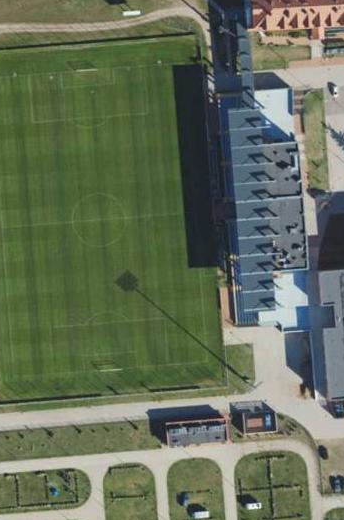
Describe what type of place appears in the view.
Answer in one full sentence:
This looks like a sports ground.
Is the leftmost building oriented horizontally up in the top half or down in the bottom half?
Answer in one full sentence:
The bottom half of the photo is where the leftmost building oriented horizontally is.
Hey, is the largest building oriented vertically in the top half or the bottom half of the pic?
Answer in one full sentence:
The largest building oriented vertically sits in the top half of the picture.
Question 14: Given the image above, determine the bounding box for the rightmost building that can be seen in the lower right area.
[232,403,276,433]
